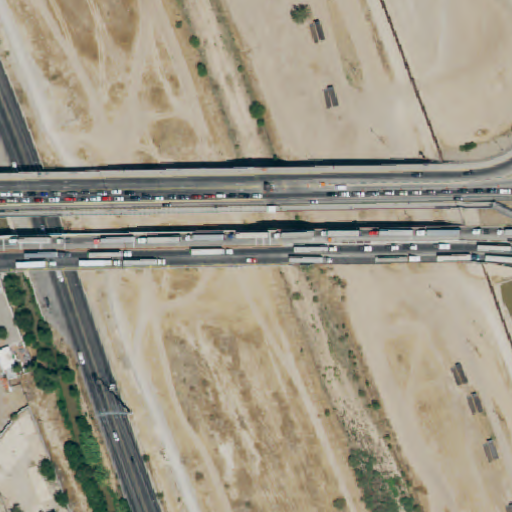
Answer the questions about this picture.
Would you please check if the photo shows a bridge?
Yes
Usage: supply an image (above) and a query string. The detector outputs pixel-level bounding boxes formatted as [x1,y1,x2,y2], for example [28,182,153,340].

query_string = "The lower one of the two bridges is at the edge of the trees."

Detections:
[0,228,512,270]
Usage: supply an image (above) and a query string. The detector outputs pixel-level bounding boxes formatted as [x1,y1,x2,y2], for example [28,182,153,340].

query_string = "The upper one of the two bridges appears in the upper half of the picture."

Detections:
[0,150,512,217]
